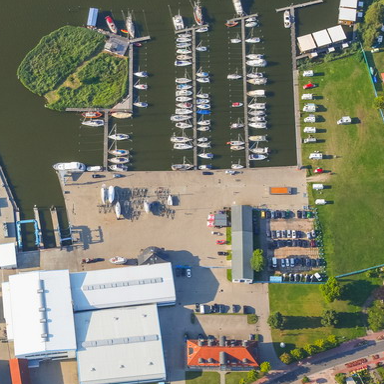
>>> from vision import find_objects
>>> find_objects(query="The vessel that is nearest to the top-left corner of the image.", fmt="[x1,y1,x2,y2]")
[102,14,117,34]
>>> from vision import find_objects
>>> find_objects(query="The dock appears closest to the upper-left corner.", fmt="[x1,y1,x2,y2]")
[65,27,150,113]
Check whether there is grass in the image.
Yes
